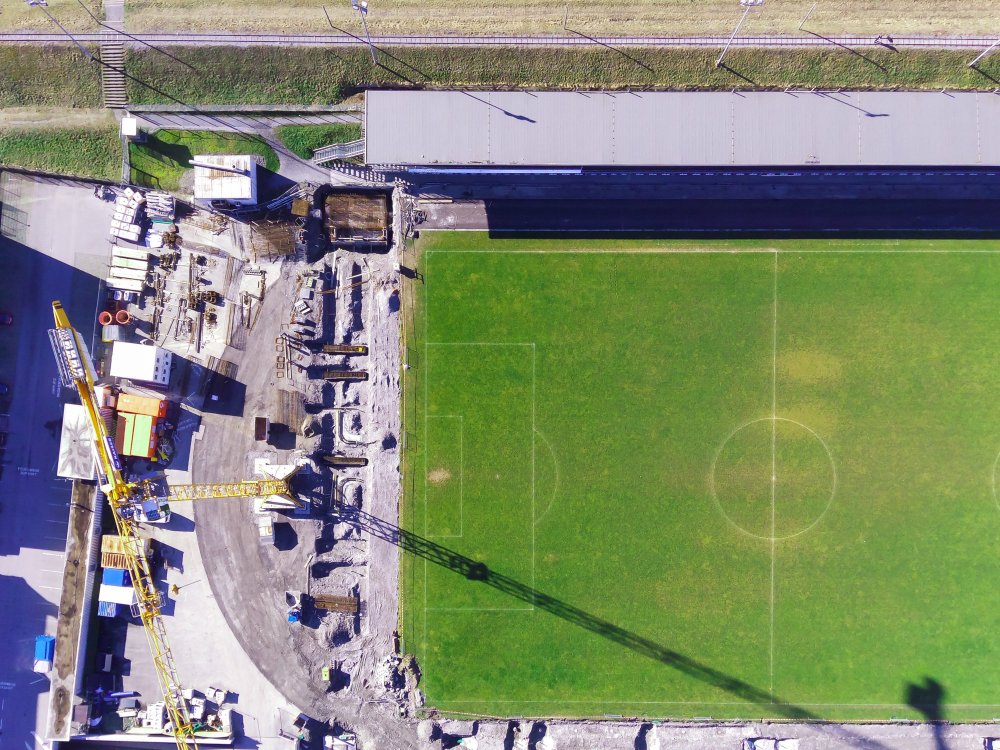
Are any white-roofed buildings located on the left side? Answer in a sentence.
Yes, I can see a white-roofed building on the left side.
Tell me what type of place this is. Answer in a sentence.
The area seen from above is a sports ground.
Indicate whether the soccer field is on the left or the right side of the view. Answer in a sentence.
It is on the right.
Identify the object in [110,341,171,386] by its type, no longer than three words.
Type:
building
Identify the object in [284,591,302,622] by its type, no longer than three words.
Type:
vehicle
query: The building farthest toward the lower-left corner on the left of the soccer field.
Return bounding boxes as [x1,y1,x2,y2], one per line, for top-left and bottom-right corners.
[46,479,106,741]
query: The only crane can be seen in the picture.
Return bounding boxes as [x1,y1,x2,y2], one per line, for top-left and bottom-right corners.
[47,301,312,750]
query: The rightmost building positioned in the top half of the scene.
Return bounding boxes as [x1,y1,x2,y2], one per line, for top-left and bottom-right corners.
[186,155,257,205]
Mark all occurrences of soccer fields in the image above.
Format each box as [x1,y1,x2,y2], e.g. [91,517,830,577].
[398,231,1000,722]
